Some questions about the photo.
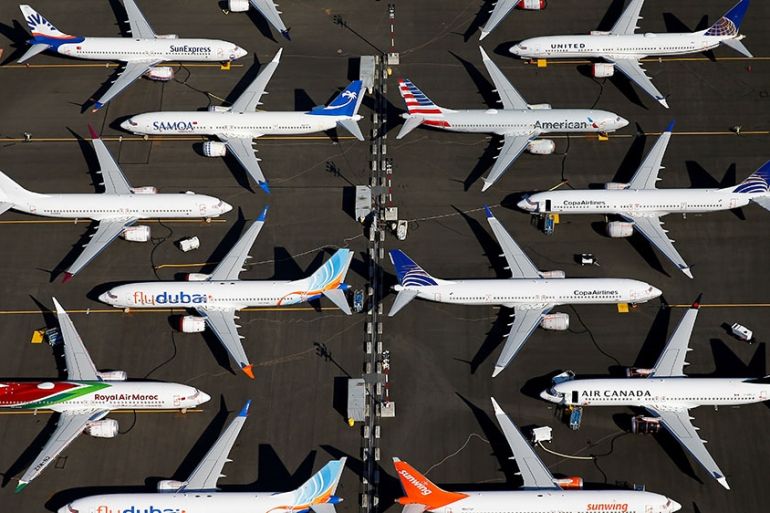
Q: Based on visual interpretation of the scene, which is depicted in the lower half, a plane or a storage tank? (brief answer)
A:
plane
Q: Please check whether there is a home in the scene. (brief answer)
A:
No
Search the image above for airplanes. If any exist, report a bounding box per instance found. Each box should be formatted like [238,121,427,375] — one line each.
[393,398,682,513]
[398,49,629,190]
[479,0,547,39]
[120,51,366,193]
[509,0,751,108]
[59,400,347,513]
[99,207,355,378]
[540,296,770,487]
[227,0,291,40]
[19,0,245,111]
[389,206,663,378]
[0,126,232,281]
[517,123,770,278]
[0,301,210,491]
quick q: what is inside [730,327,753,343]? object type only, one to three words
vehicle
